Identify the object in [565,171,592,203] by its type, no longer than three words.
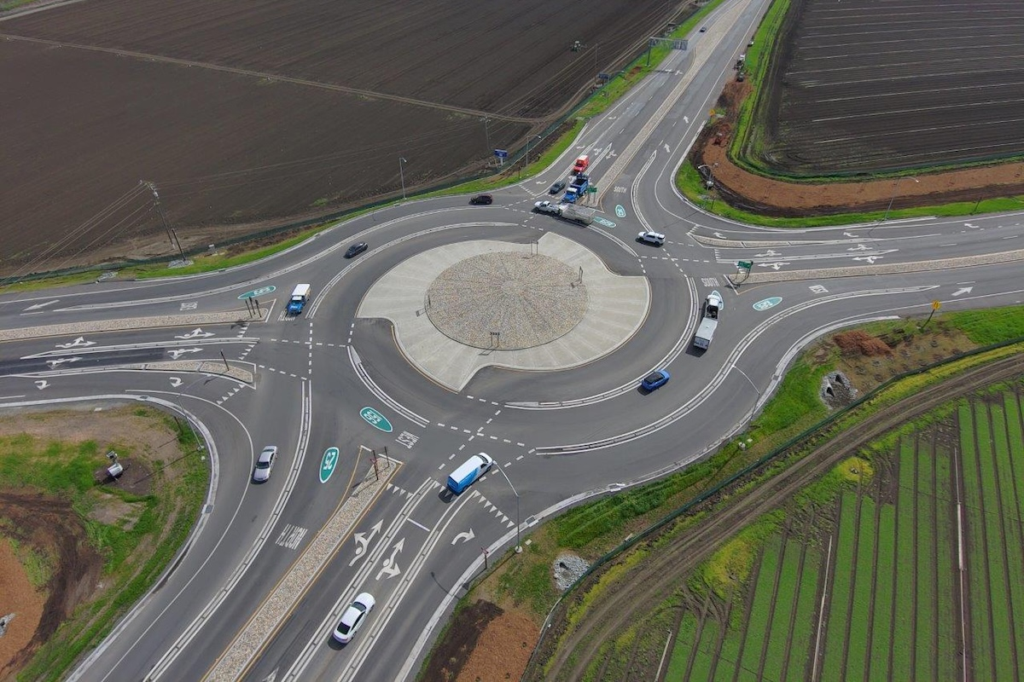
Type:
truck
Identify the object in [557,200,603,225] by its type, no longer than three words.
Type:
trailer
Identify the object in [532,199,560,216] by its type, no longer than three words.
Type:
vehicle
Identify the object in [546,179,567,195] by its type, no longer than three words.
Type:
car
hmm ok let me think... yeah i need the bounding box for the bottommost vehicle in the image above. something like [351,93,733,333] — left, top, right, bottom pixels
[331,596,373,644]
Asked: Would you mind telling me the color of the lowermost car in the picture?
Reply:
white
